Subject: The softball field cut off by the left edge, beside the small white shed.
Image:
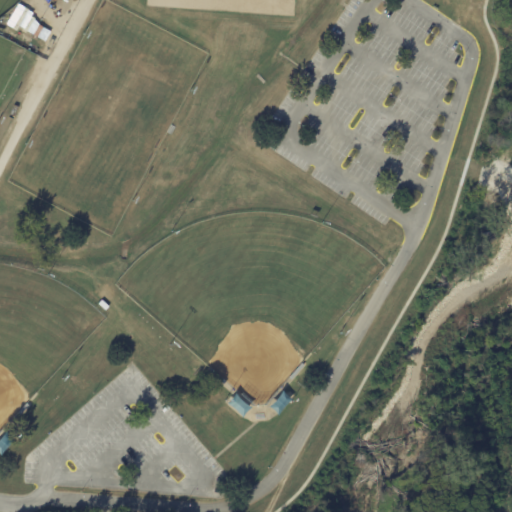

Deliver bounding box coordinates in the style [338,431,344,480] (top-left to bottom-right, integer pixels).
[0,264,106,428]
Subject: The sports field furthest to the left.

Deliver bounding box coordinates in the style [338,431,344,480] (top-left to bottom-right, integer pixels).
[0,35,43,120]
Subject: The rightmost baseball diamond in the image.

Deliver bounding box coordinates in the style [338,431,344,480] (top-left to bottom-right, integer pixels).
[117,212,386,406]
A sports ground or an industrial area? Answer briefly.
sports ground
